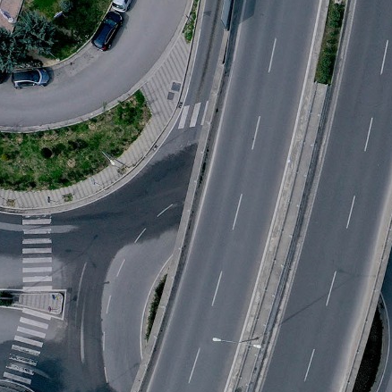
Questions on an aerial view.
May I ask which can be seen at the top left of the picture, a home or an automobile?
automobile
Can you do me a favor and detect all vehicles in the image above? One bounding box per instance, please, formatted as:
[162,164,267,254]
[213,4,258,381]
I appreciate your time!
[13,67,54,88]
[113,0,132,13]
[93,10,123,52]
[0,67,8,84]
